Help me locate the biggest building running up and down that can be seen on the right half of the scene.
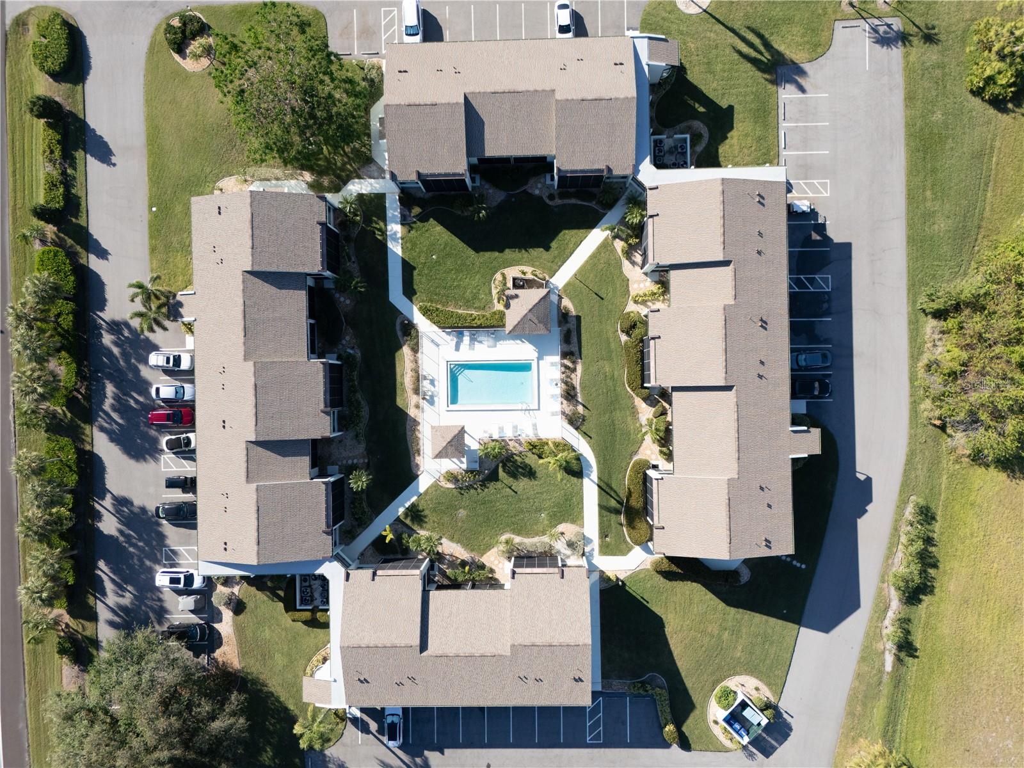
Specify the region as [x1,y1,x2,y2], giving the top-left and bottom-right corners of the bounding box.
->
[637,176,795,560]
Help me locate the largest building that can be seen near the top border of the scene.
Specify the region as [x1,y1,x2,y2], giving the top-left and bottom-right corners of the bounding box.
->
[384,35,635,196]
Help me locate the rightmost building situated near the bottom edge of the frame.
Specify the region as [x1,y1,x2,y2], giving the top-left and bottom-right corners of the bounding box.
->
[712,683,785,759]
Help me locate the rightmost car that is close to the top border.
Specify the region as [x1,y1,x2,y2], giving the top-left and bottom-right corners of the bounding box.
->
[554,0,575,37]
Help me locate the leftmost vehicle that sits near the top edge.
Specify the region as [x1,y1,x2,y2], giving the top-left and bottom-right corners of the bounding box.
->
[401,0,422,42]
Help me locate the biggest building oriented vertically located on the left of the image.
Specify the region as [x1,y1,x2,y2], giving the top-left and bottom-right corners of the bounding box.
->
[191,191,347,565]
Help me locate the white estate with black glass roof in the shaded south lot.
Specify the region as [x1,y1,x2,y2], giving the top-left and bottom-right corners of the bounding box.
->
[383,707,404,748]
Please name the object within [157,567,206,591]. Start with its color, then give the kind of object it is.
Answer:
white car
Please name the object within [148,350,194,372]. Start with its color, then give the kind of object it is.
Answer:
white car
